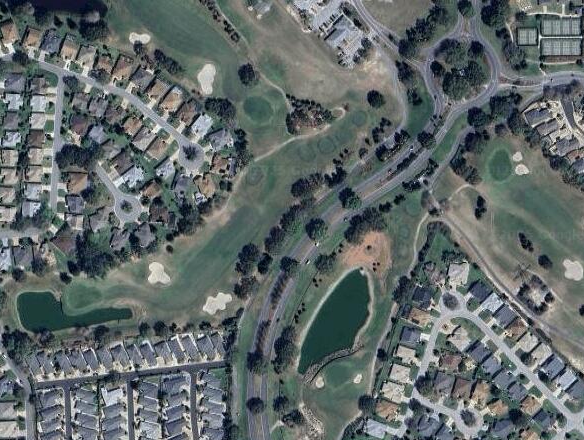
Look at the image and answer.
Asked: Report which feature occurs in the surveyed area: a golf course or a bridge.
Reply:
golf course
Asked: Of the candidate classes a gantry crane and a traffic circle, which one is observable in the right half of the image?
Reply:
traffic circle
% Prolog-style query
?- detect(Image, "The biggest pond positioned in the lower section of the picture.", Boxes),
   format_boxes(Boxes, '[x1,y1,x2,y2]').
[298,268,369,374]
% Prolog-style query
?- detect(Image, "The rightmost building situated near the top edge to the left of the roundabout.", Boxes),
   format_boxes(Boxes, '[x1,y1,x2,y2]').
[324,15,355,47]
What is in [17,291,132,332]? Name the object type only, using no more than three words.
pond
